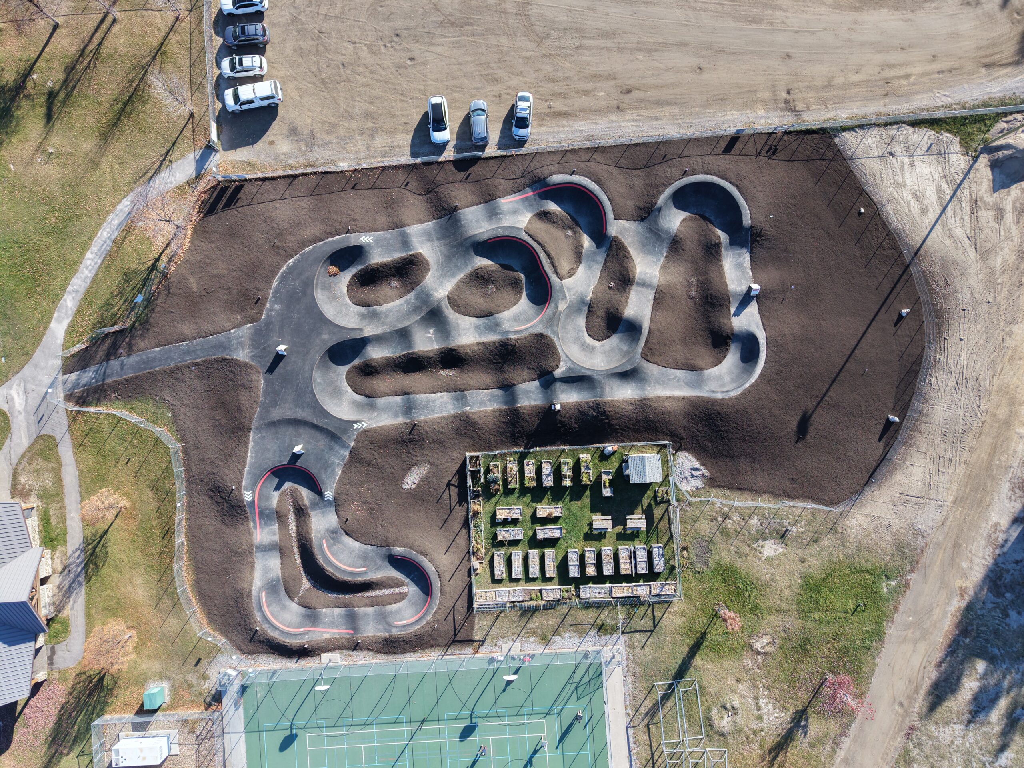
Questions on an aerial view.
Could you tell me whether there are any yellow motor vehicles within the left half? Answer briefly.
No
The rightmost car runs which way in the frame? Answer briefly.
up and down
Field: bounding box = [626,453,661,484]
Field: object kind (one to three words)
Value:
shed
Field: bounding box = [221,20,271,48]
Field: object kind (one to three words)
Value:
car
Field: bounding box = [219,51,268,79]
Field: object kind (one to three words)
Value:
car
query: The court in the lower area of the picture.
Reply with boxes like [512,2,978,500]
[241,649,608,768]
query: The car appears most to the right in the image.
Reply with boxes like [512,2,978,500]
[511,89,534,140]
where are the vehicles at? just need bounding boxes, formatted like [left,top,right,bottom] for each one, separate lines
[221,20,271,48]
[219,51,268,79]
[218,0,269,16]
[222,78,283,113]
[427,94,451,145]
[511,89,534,140]
[467,97,491,144]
